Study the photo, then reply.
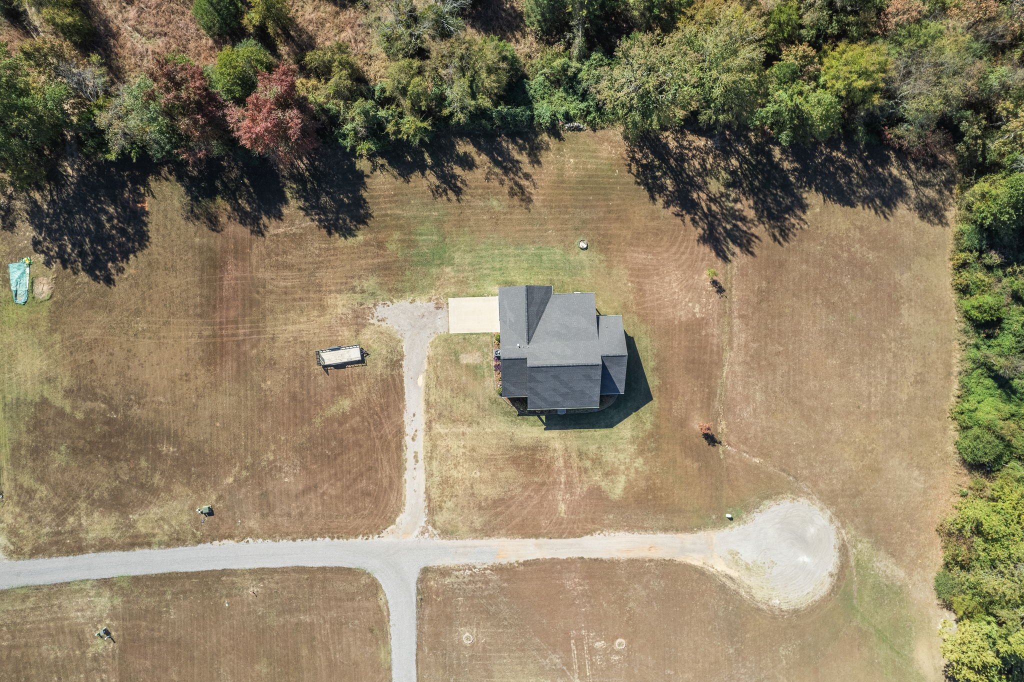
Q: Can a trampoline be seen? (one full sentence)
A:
No, no trampoline can be seen from above.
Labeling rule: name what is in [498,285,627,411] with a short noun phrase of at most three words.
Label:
house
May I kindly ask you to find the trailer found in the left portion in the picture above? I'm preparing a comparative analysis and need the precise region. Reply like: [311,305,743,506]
[315,345,372,367]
